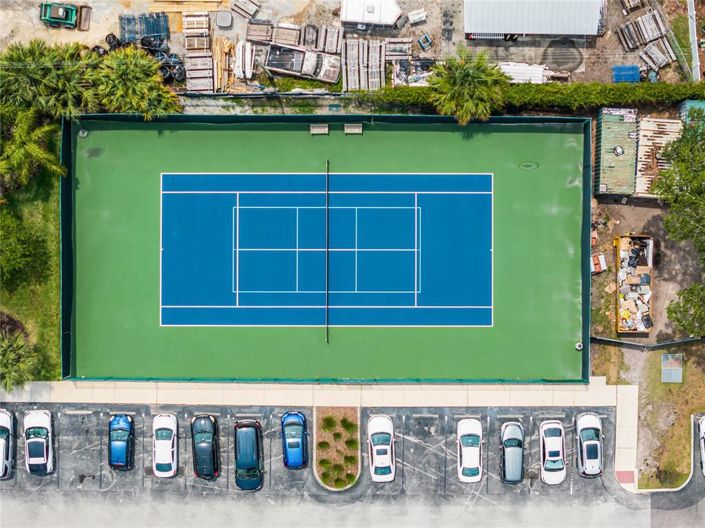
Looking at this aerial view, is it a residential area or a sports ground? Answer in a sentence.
This looks like a sports ground.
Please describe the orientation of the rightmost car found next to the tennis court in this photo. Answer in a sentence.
The rightmost car found next to the tennis court runs vertically in the image.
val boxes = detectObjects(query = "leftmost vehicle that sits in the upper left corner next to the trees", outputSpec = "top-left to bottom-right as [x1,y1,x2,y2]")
[37,0,97,34]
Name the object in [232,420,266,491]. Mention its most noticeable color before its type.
blue car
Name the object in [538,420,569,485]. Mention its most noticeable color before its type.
white car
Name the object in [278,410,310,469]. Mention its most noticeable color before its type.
blue car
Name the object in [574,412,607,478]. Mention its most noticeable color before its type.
white car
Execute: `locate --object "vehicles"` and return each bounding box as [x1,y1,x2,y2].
[538,420,569,485]
[20,410,56,475]
[498,421,529,483]
[366,414,397,482]
[232,420,266,491]
[37,0,97,34]
[574,412,607,478]
[0,409,18,479]
[149,414,180,477]
[105,414,136,469]
[262,41,344,84]
[188,414,221,479]
[455,419,486,483]
[278,410,310,469]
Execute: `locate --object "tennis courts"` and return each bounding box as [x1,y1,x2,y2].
[71,121,582,381]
